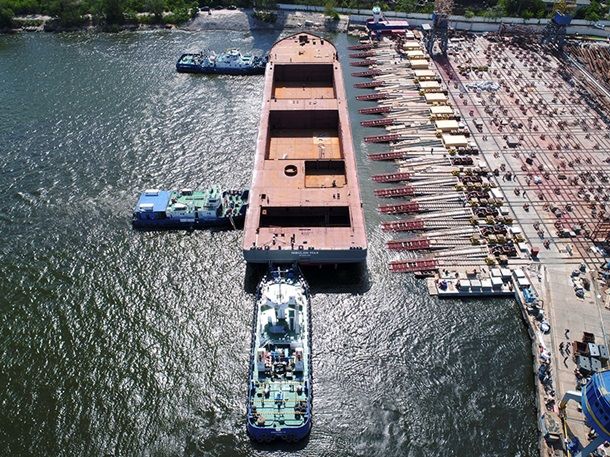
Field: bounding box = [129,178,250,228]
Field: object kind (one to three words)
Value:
boat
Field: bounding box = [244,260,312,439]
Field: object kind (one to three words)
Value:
boat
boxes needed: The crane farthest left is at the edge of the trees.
[426,0,458,58]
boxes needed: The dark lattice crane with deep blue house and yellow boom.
[529,0,571,57]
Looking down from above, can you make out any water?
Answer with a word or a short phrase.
Yes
